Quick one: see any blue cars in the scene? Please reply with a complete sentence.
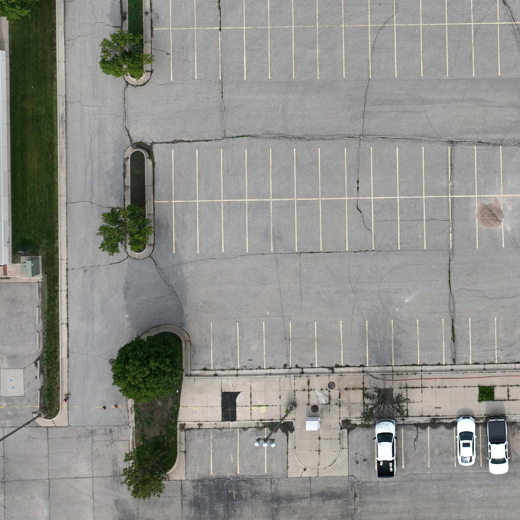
No, I can see no blue car in this picture.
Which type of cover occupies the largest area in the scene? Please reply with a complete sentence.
Most of the picture is covered by paved ground.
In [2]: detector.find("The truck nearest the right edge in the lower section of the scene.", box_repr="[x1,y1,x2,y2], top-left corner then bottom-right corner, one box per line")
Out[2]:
[486,415,511,473]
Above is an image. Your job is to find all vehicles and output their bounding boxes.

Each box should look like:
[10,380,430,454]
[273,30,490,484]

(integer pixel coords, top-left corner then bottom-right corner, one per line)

[454,415,478,465]
[372,417,399,478]
[486,415,511,473]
